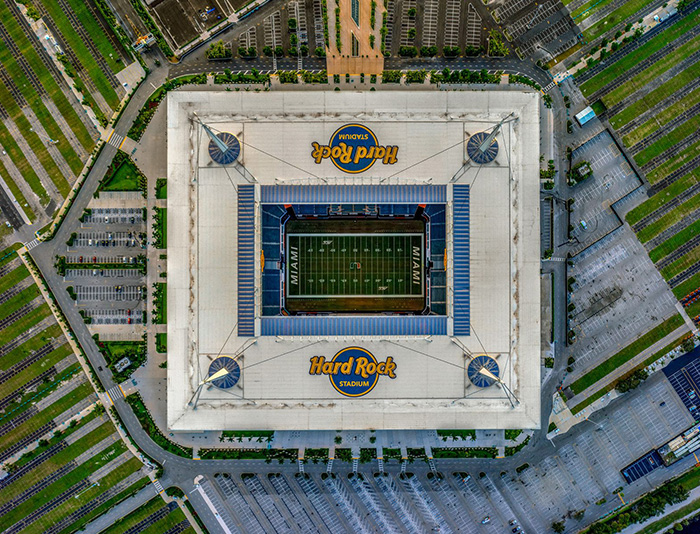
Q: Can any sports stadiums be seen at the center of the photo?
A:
Yes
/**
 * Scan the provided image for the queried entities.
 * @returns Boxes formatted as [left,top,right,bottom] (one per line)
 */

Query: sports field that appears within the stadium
[284,222,427,308]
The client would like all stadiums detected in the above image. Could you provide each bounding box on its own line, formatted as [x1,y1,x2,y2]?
[167,92,540,430]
